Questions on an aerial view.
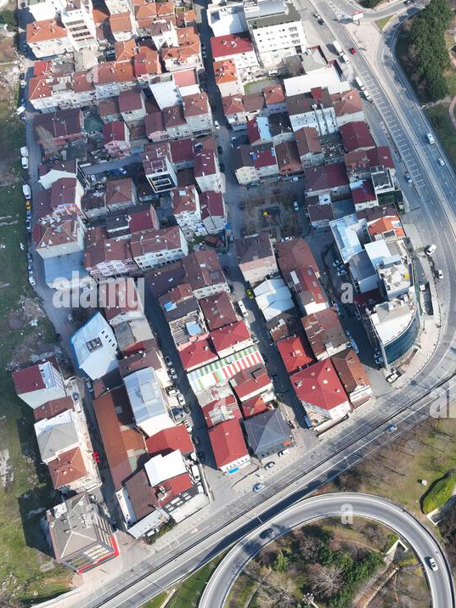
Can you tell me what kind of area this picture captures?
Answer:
residential area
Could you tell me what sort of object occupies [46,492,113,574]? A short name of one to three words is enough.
building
